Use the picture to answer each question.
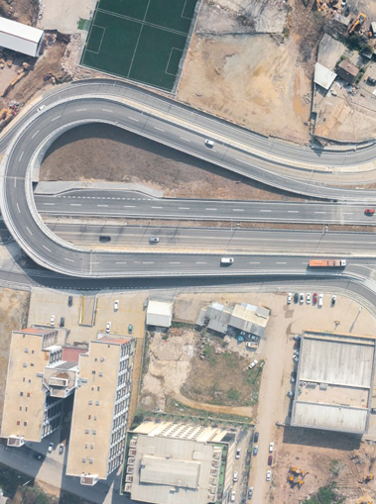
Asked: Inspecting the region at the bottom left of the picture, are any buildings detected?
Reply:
Yes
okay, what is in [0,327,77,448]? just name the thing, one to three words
building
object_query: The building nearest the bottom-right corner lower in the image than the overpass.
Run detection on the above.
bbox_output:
[290,330,376,434]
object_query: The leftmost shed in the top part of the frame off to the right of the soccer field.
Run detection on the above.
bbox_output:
[312,62,338,90]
